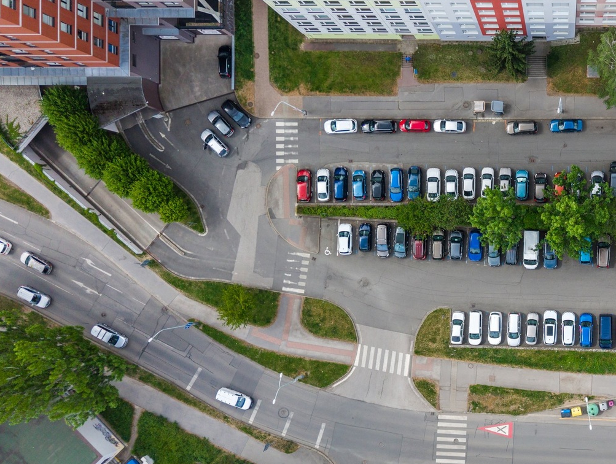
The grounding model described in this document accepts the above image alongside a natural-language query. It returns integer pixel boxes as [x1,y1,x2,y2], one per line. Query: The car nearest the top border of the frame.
[216,45,234,79]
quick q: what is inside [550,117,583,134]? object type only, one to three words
car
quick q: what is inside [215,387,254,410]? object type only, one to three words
car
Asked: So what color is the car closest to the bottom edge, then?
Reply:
white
